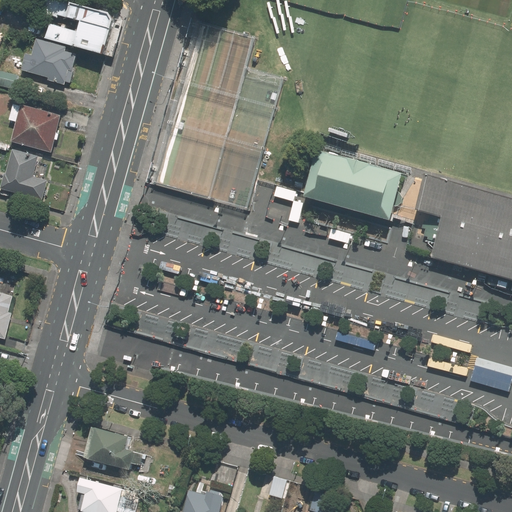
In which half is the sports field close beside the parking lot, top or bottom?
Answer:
top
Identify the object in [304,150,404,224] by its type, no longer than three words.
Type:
building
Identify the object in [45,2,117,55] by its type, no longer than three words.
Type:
building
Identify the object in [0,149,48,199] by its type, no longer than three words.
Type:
house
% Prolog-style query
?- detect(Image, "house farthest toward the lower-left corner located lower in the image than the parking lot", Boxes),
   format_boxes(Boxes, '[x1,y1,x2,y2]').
[76,477,124,512]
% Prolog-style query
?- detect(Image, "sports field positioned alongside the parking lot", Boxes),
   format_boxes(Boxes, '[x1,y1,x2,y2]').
[273,0,512,190]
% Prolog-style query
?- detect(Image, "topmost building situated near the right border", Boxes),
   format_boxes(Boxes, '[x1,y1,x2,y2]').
[417,174,512,282]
